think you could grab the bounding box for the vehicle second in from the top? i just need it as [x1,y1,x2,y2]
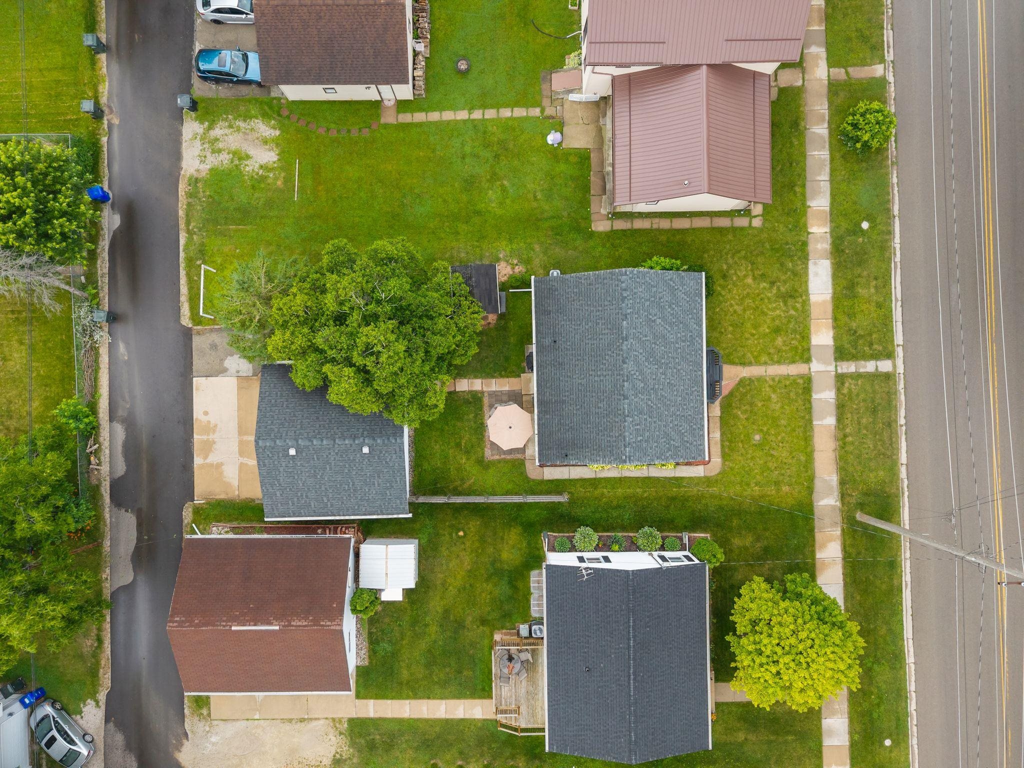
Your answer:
[195,39,262,84]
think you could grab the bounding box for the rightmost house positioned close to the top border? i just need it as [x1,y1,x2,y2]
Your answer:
[583,0,816,214]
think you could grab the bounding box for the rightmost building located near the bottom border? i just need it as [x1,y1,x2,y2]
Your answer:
[541,537,713,768]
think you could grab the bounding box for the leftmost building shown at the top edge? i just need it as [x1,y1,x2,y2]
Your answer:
[250,0,414,100]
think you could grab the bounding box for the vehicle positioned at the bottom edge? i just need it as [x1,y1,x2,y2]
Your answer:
[28,697,98,768]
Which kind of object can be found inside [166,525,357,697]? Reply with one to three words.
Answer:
building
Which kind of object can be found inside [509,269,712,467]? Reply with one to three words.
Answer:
house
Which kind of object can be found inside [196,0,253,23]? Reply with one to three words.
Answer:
car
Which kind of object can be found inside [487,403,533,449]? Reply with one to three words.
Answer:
umbrella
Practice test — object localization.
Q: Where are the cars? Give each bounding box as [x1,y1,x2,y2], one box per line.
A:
[195,39,262,84]
[196,0,253,23]
[28,697,98,768]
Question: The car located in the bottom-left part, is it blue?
No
